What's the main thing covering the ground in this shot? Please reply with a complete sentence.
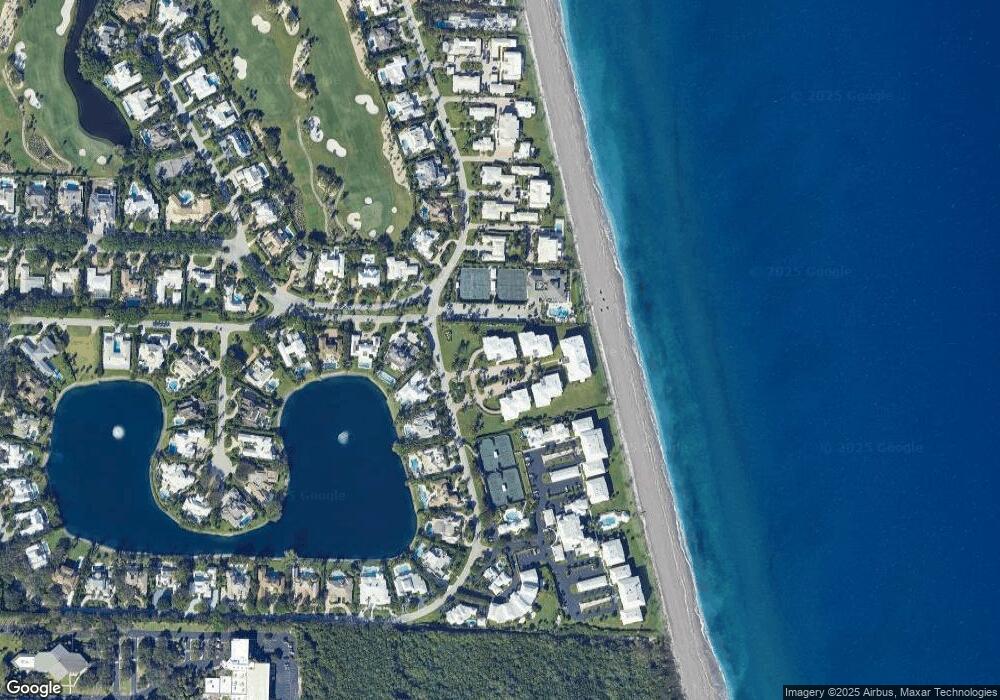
The scene is dominated by water.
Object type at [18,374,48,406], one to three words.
house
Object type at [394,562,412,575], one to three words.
swimming pool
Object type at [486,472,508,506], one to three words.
tennis court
